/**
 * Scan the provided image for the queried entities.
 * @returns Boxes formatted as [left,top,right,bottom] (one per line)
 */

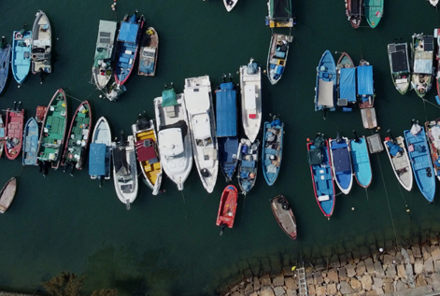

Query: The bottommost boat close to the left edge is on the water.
[0,177,18,214]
